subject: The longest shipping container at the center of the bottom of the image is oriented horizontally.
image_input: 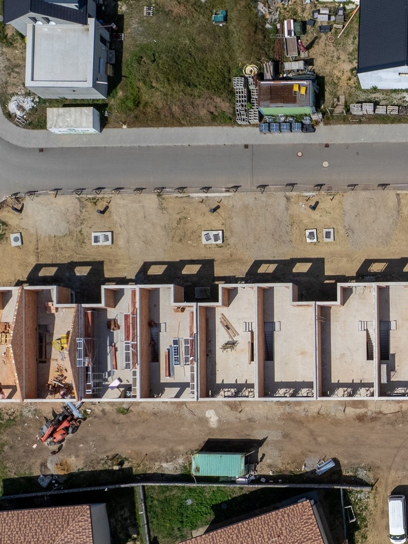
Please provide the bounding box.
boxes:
[190,447,261,476]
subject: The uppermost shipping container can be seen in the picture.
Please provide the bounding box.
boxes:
[47,107,103,134]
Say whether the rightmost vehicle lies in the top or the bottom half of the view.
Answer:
bottom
